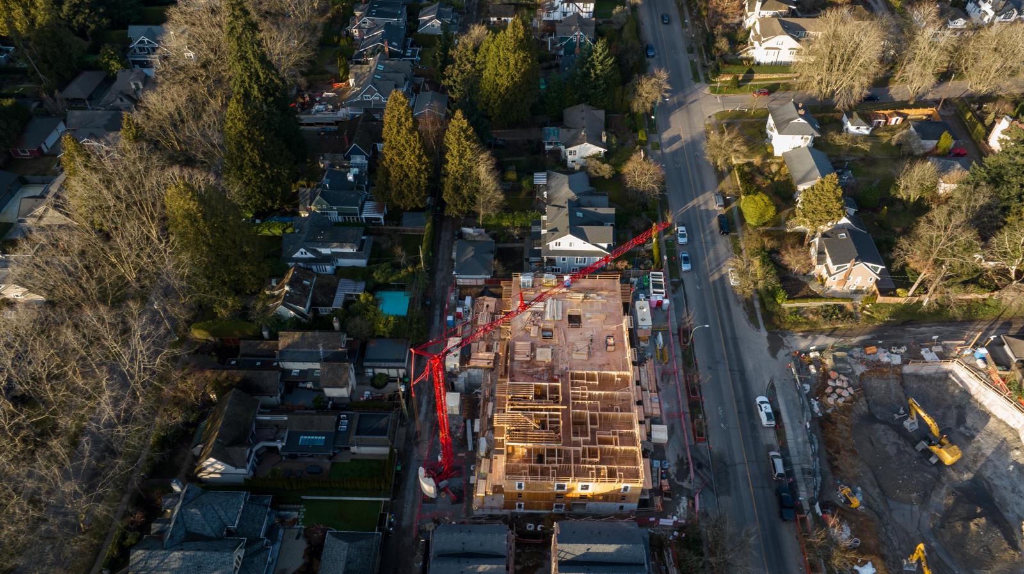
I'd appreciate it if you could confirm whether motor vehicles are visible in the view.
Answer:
Yes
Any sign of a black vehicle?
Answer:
Yes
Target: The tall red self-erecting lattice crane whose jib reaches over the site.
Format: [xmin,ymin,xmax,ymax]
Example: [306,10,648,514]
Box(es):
[407,221,671,507]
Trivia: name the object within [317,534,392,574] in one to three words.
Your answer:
building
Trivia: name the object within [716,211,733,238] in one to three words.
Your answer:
vehicle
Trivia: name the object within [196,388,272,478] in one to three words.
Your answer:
house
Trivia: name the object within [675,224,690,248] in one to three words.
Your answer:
car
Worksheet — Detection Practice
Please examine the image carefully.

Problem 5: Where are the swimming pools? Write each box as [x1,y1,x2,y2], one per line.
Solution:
[377,287,411,318]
